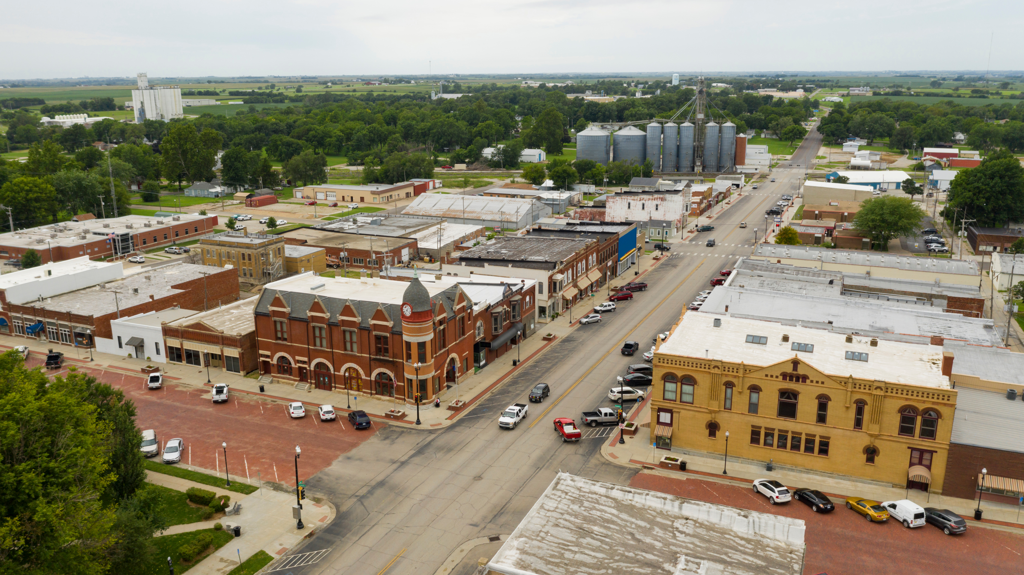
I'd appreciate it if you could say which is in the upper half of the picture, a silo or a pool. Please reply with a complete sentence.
The one visible in the upper half of the picture is a silo.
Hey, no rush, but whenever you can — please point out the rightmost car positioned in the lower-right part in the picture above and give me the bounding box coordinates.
[923,508,971,538]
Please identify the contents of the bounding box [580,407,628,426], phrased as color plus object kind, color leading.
gray vehicle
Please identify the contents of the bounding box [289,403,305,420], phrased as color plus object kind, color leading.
white car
